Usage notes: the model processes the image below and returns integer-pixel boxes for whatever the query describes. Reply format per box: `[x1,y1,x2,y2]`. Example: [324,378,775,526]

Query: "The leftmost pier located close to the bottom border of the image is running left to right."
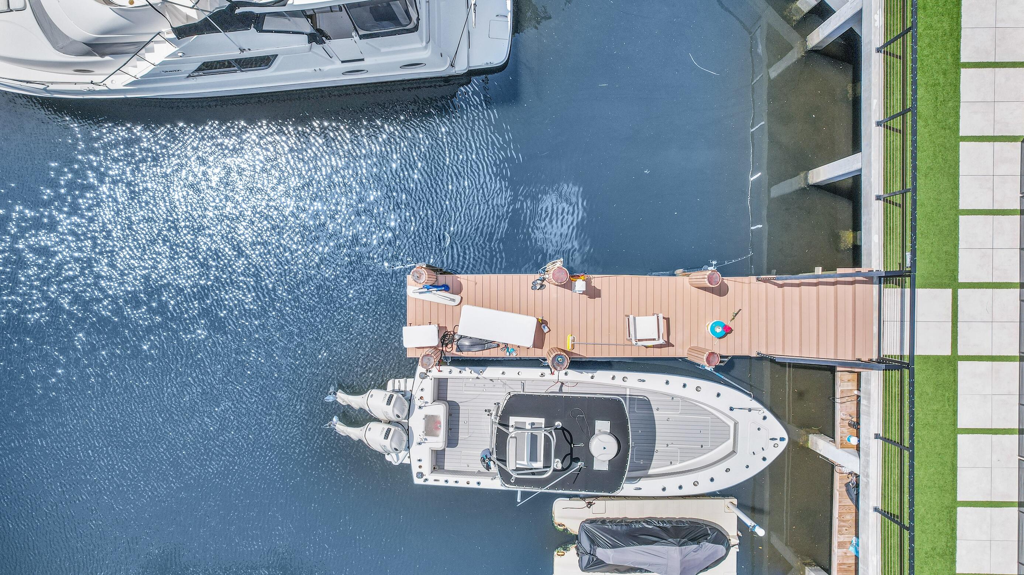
[548,493,739,575]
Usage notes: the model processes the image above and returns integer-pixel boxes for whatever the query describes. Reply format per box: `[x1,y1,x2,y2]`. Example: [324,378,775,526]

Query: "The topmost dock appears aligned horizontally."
[407,275,748,357]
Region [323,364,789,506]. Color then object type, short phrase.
white boat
